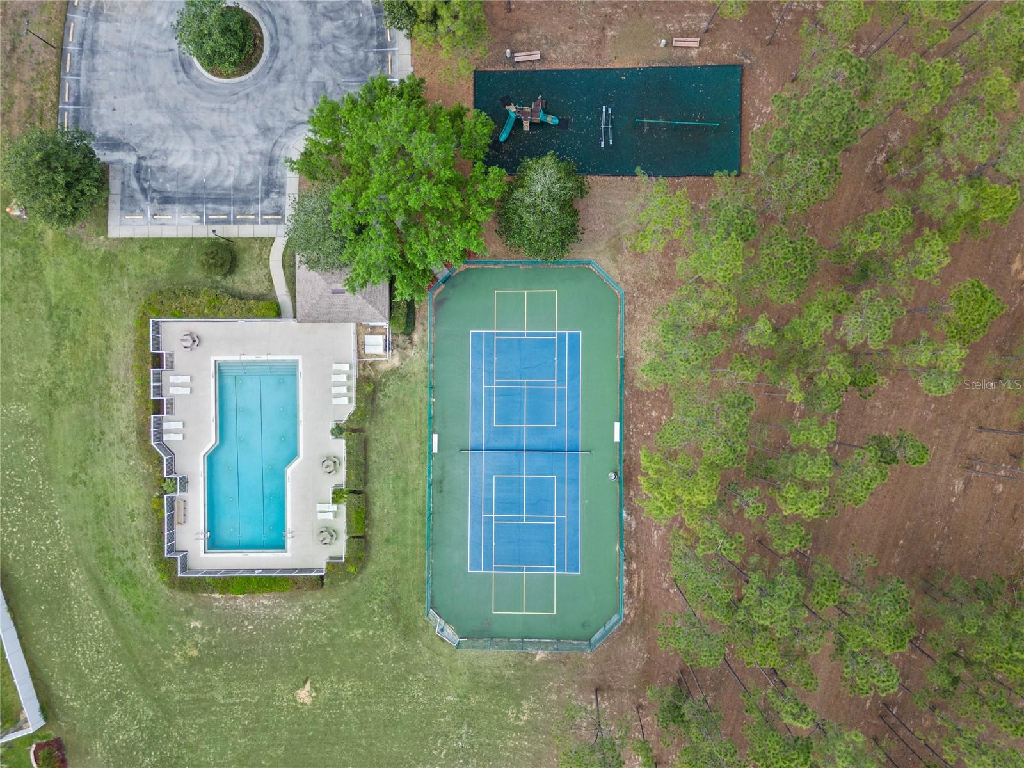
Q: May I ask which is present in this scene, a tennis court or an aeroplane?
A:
tennis court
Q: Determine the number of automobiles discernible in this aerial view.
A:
none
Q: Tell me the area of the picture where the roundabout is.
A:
top left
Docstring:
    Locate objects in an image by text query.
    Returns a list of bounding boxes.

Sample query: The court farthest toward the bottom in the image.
[432,267,618,639]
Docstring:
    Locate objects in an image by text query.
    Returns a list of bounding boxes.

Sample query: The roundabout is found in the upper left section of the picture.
[181,0,268,82]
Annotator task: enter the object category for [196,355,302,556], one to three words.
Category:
swimming pool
